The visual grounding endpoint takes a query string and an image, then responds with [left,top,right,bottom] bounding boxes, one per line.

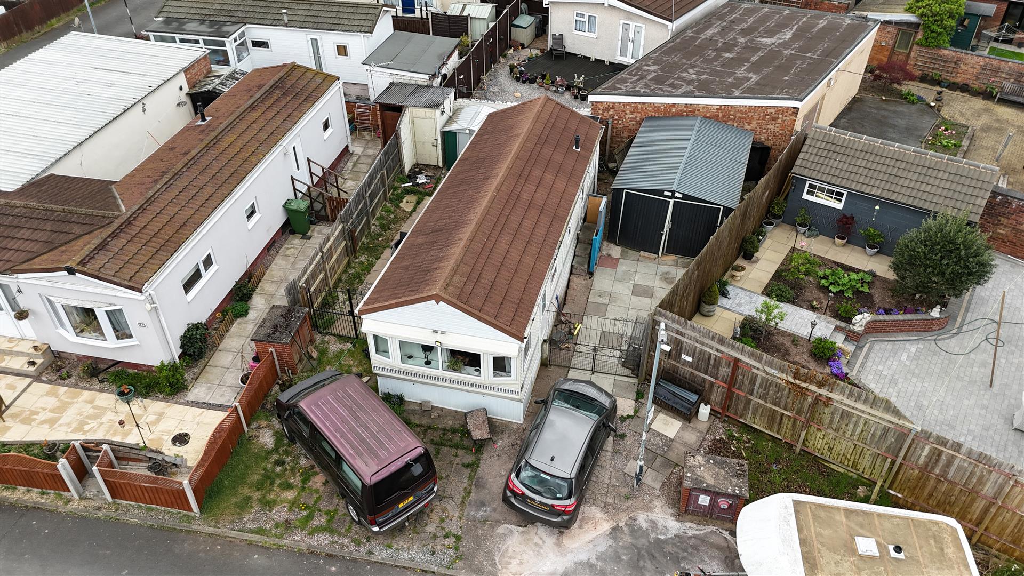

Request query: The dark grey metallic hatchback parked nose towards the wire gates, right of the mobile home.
[500,385,615,532]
